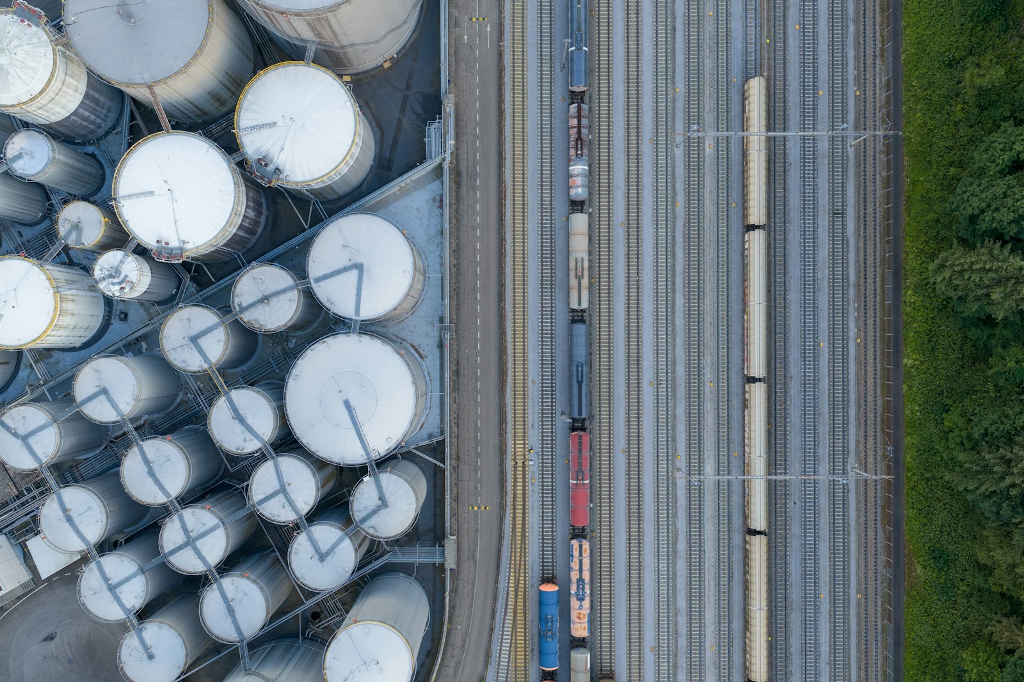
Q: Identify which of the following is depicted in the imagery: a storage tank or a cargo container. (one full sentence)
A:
It is a storage tank that can be seen here.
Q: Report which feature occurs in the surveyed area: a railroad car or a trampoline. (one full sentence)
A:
The one in the frame is a railroad car.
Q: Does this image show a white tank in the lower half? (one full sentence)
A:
Yes, a white tank can be seen in the lower half.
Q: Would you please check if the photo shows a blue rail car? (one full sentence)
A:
Yes, the picture does show a blue rail car.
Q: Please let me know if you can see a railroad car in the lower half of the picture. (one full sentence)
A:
Yes, a railroad car shows up in the lower half of the picture.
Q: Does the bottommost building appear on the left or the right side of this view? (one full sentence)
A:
The bottommost building sits on the left side.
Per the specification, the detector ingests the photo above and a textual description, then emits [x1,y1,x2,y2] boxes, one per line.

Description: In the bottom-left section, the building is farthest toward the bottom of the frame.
[0,526,42,598]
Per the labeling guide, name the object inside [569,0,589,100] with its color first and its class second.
blue rail car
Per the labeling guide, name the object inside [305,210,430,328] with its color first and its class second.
white storage tank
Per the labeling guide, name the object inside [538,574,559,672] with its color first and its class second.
blue rail car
